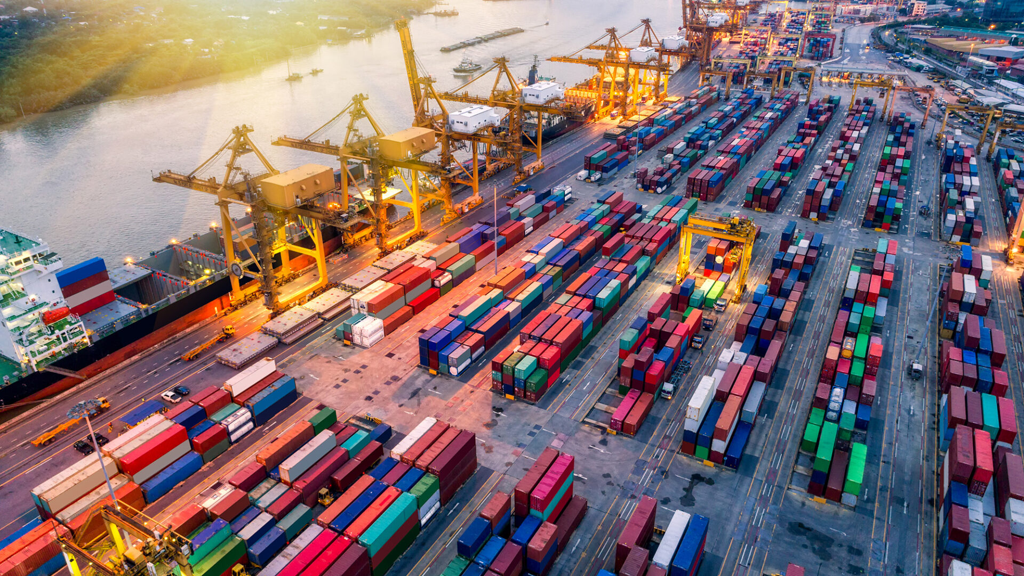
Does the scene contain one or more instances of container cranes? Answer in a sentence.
Yes, there's a container crane here.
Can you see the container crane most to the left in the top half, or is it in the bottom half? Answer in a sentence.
Seen from above, the container crane most to the left lies in the bottom half of the view.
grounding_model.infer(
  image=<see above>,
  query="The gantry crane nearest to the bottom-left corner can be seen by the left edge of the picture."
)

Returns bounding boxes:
[33,489,204,576]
